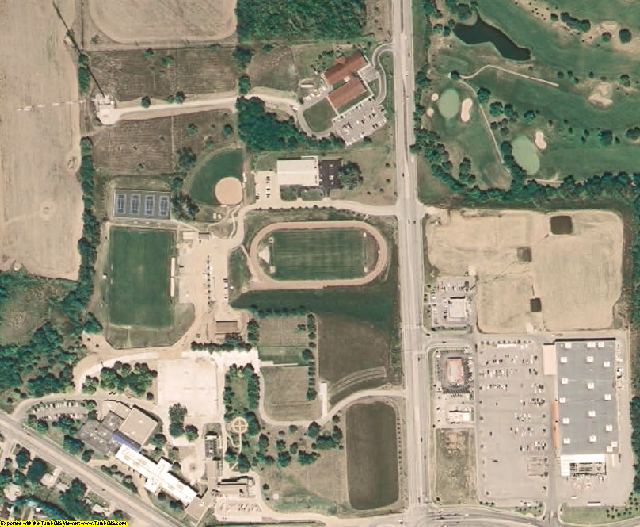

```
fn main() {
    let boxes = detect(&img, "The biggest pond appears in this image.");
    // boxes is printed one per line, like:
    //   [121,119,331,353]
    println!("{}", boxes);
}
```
[452,15,532,63]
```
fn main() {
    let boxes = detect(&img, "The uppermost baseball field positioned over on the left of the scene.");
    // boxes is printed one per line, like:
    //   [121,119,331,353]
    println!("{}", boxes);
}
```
[184,146,243,208]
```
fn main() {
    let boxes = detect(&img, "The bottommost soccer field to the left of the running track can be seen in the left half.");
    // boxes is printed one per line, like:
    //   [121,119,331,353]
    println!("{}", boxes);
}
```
[103,222,194,349]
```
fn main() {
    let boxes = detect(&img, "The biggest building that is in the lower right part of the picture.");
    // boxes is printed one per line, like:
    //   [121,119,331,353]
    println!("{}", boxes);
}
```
[543,338,618,476]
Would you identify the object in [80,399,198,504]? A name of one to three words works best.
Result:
building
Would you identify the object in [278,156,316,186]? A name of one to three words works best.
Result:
building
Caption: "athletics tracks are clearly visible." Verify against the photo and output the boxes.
[249,221,388,289]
